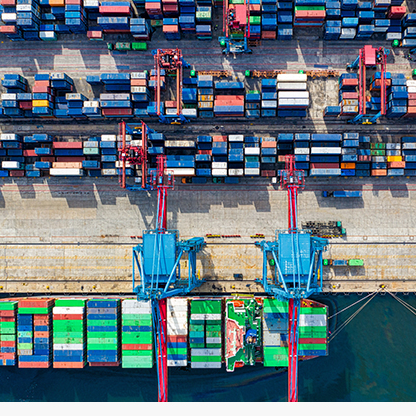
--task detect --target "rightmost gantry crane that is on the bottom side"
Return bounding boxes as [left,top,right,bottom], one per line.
[256,154,331,416]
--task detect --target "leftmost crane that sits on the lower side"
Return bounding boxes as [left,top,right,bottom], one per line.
[131,154,209,416]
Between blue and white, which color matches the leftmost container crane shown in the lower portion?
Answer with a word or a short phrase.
blue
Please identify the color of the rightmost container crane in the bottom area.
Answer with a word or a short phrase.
blue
